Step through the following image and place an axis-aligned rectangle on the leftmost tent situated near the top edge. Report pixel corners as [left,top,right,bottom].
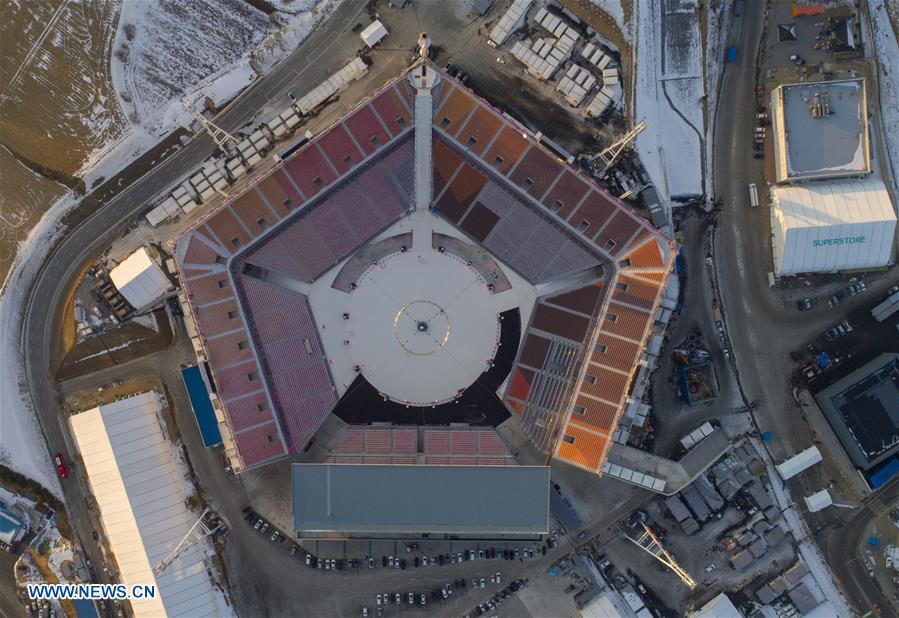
[360,20,389,51]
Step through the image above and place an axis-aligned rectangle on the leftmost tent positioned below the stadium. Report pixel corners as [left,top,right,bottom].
[573,589,622,618]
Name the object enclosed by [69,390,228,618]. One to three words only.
building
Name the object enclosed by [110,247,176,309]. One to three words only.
tent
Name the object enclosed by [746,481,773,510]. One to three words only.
building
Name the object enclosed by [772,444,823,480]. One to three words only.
tent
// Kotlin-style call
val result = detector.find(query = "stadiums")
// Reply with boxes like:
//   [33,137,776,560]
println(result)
[169,56,675,540]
